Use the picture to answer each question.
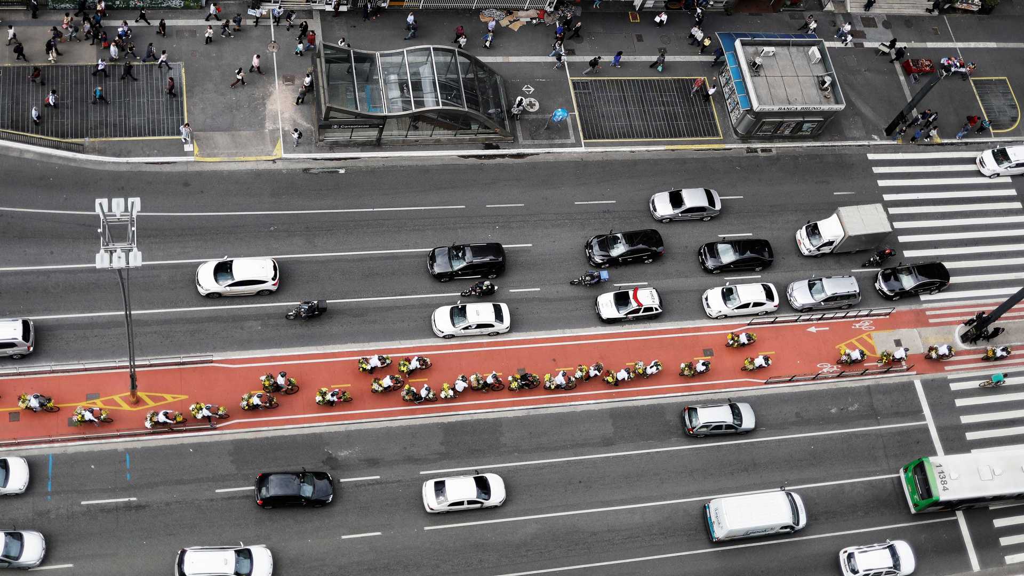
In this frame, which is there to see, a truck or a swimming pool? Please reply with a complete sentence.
The image shows a truck.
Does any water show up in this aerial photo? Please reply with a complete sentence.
No, the picture contains no water.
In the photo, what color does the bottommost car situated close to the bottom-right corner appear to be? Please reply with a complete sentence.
The bottommost car situated close to the bottom-right corner is white.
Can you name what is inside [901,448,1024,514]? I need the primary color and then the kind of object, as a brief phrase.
white bus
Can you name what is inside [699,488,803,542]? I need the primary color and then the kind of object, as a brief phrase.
white van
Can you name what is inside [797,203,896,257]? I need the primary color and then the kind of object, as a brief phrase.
white truck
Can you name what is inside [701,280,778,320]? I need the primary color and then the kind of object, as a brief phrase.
white car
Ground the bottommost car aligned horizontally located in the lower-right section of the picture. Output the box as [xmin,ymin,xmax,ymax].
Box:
[841,540,917,576]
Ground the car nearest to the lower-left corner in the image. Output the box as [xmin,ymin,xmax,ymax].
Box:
[0,524,47,571]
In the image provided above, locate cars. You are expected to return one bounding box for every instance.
[195,255,280,299]
[978,143,1024,178]
[423,468,508,514]
[597,284,665,323]
[174,535,273,576]
[587,228,665,268]
[0,457,31,496]
[841,540,917,576]
[428,239,509,282]
[701,280,778,320]
[254,465,334,510]
[649,186,720,223]
[787,273,862,313]
[684,397,758,439]
[876,263,948,301]
[699,235,775,274]
[431,298,511,339]
[0,524,47,571]
[0,318,35,360]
